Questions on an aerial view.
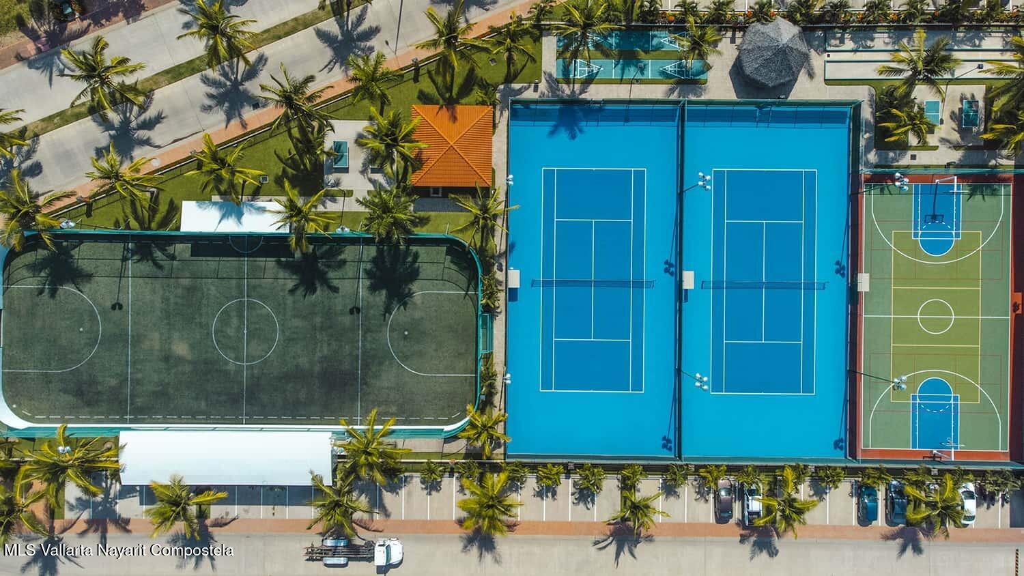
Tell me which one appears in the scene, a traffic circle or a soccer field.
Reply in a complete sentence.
This aerial view contains a soccer field.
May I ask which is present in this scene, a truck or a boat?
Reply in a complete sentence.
I can see a truck in this picture.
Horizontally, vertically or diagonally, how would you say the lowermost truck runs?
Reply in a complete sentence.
From this overhead view, the lowermost truck appears to run horizontally.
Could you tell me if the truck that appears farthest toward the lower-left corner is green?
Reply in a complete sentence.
No, the truck that appears farthest toward the lower-left corner is actually white.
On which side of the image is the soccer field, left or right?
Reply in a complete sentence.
The soccer field is on the left side of the image.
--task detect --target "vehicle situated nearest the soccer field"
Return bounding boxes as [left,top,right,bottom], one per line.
[306,536,408,569]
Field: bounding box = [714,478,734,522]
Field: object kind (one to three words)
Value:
car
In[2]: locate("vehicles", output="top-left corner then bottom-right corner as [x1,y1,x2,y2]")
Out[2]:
[742,477,763,527]
[858,484,880,523]
[714,478,734,522]
[306,536,408,569]
[886,480,909,525]
[955,481,979,526]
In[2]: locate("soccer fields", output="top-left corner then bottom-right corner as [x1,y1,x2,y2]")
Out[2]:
[1,236,489,426]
